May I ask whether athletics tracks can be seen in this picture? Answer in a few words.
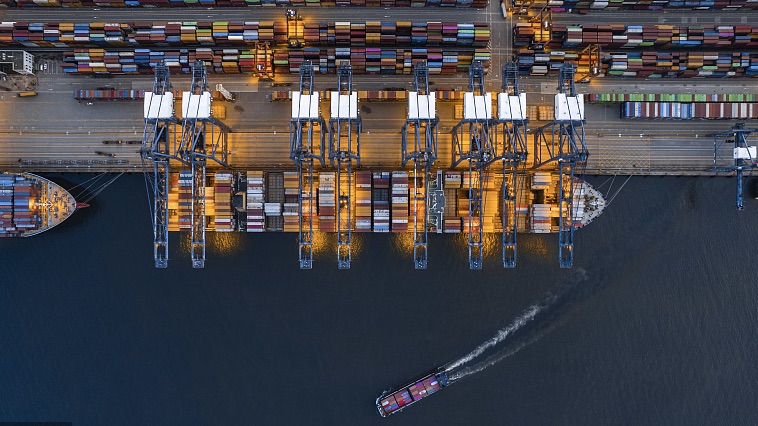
No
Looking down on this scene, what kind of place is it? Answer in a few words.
port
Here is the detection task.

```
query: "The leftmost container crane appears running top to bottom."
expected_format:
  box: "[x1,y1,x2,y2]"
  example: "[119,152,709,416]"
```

[135,61,196,268]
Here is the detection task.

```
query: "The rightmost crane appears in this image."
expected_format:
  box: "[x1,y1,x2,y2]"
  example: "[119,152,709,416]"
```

[695,119,758,210]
